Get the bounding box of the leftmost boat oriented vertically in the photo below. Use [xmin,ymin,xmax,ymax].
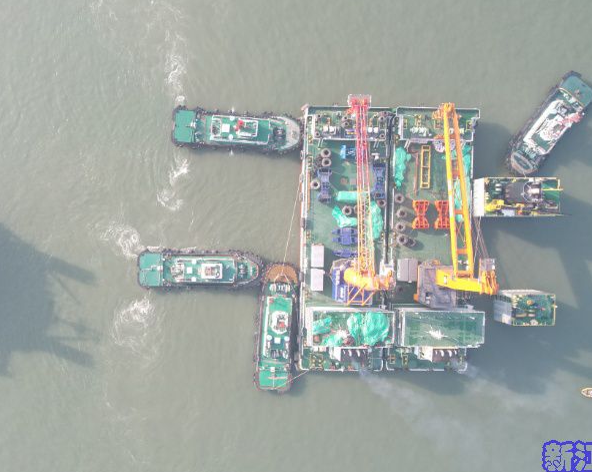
[251,261,302,394]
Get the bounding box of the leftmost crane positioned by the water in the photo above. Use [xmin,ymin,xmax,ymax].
[329,91,395,307]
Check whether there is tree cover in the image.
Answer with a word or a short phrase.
No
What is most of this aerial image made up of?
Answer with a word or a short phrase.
water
